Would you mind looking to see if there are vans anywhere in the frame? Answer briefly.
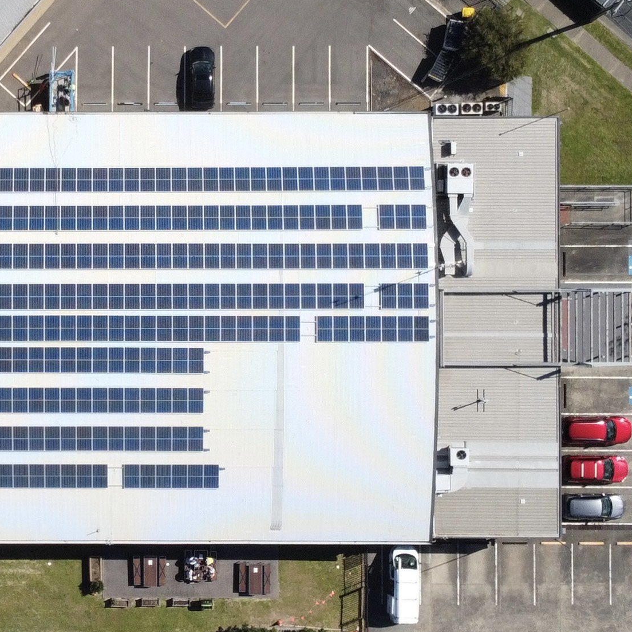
Yes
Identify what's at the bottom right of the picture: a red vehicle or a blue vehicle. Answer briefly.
red vehicle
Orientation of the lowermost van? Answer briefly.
vertically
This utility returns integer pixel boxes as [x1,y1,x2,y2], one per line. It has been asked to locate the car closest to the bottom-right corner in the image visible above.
[562,493,622,522]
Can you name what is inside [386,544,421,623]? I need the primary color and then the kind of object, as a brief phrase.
white van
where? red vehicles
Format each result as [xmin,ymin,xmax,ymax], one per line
[562,454,627,484]
[562,416,630,447]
